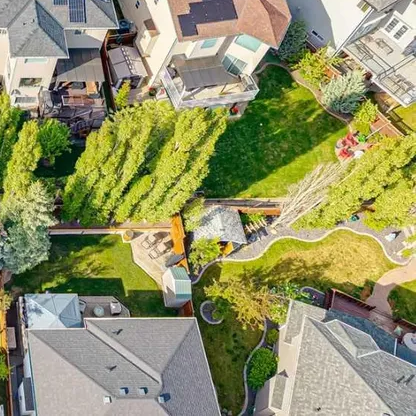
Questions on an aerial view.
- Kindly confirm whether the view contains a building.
Yes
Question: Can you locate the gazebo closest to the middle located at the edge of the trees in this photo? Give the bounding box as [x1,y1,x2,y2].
[187,200,250,251]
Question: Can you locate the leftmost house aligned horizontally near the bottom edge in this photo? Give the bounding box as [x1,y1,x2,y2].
[22,317,230,416]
